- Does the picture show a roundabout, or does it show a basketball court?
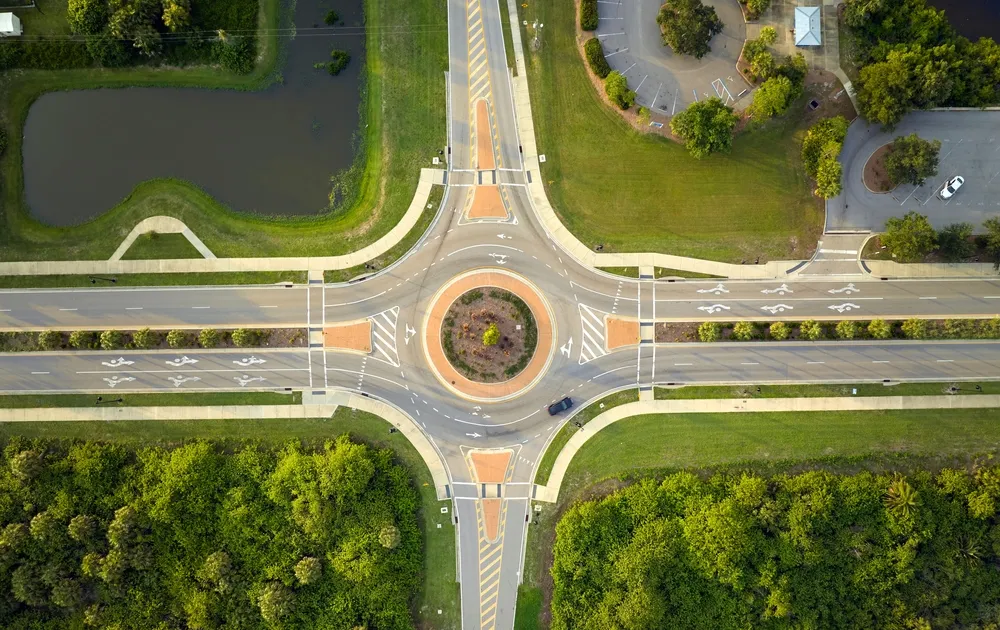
roundabout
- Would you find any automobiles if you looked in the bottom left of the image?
No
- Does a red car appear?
No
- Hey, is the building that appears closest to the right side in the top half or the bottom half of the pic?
top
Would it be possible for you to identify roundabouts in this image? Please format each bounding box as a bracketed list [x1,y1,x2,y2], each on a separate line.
[308,168,655,499]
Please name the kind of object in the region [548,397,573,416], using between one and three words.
car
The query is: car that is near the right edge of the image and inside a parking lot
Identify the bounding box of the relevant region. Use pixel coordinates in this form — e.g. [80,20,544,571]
[938,174,966,200]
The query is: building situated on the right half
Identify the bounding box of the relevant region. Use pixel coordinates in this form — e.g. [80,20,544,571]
[792,7,821,49]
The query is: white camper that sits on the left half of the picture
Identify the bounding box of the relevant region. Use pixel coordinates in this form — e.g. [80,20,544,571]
[0,14,27,34]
